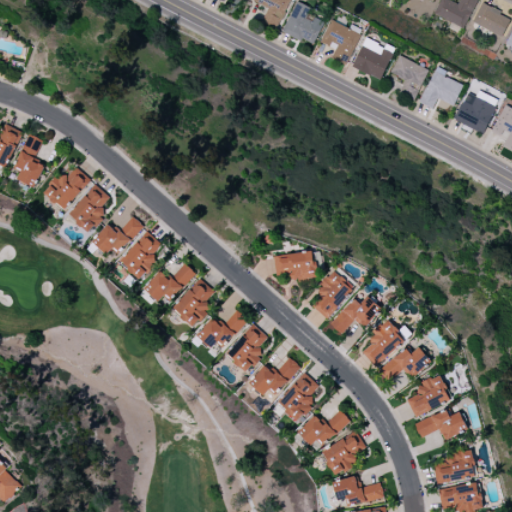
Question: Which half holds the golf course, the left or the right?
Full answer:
The golf course is on the left side of the image.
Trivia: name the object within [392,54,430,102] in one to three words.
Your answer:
house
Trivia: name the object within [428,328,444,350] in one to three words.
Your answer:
swimming pool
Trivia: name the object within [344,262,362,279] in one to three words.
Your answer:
swimming pool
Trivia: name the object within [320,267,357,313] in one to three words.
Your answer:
house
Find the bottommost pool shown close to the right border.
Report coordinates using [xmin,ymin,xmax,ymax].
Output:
[487,480,500,504]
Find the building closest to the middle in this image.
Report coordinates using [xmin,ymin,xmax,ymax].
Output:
[275,252,318,280]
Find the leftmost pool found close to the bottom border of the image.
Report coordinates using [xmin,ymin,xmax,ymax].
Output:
[320,485,332,510]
